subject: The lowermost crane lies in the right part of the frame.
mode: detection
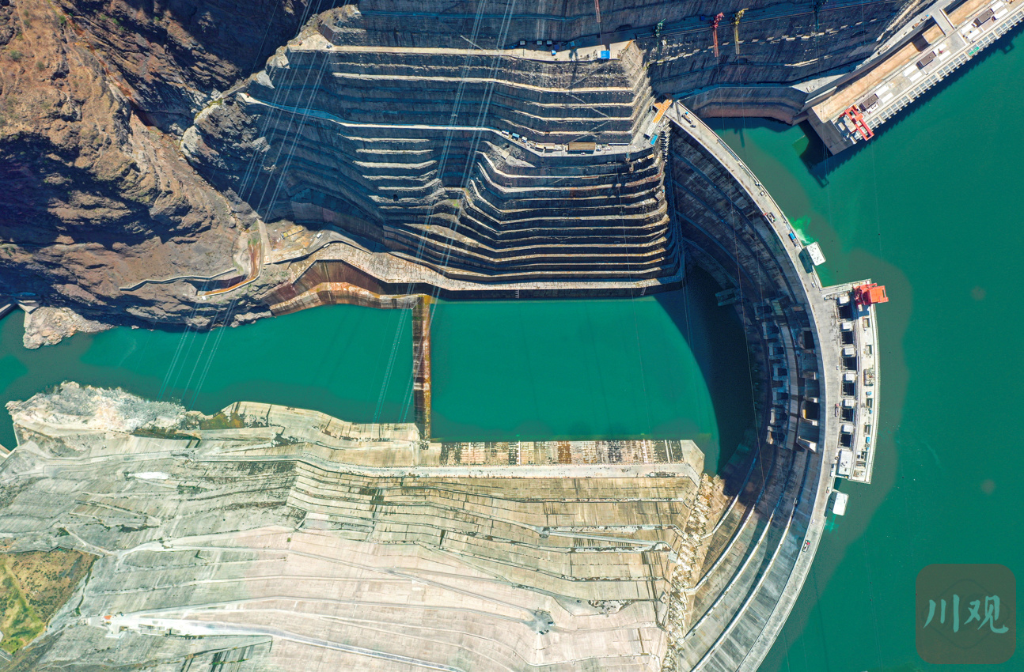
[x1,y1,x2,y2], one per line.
[848,294,891,317]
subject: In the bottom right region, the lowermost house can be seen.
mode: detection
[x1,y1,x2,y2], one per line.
[832,492,854,519]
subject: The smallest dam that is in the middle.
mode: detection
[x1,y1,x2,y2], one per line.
[415,296,432,442]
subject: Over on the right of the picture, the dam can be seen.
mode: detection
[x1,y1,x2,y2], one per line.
[660,98,880,672]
